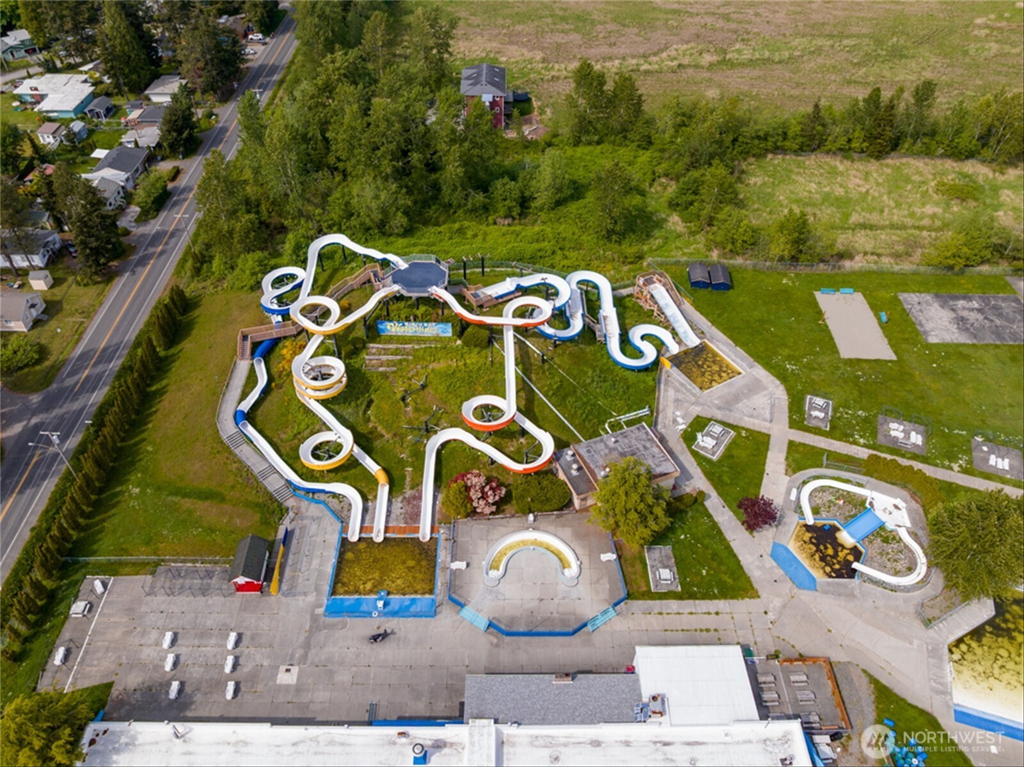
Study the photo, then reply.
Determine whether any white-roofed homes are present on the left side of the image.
Yes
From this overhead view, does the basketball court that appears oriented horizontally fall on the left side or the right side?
right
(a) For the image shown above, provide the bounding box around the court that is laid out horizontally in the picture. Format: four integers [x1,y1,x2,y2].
[898,293,1024,344]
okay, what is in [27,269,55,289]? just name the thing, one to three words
shed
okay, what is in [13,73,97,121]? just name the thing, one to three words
house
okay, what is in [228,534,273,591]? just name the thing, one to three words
shed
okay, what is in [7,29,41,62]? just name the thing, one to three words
building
